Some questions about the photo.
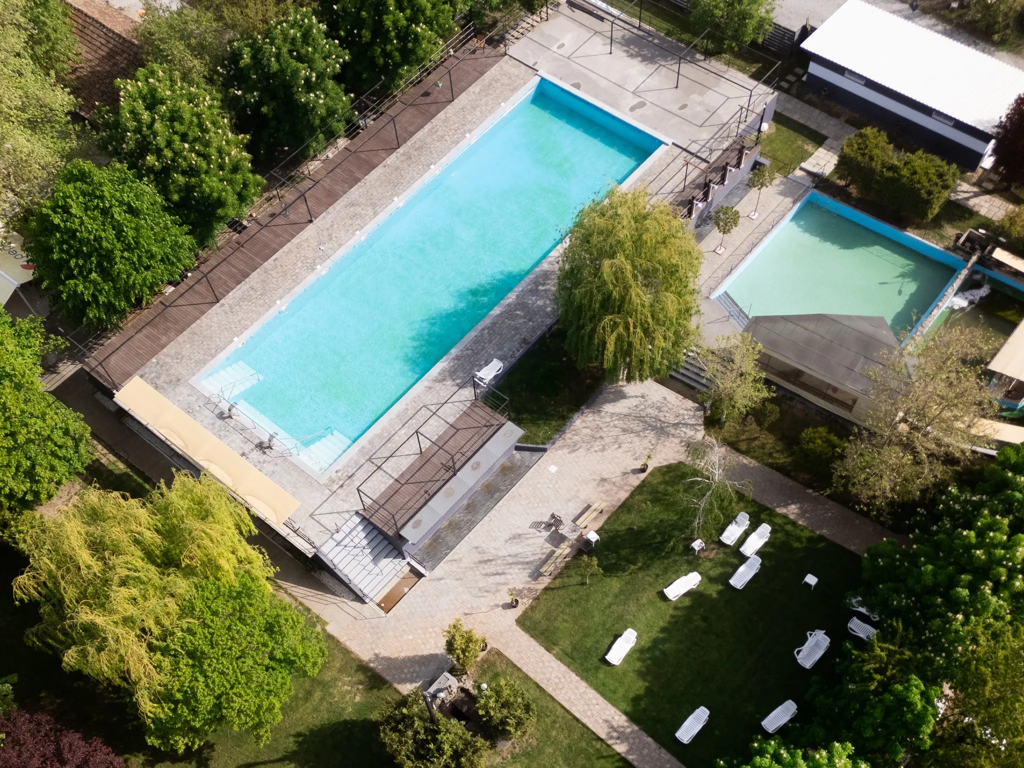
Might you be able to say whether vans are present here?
No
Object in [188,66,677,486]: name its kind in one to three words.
swimming pool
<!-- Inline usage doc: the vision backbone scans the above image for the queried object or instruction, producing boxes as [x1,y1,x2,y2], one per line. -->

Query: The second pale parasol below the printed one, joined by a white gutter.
[0,271,37,315]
